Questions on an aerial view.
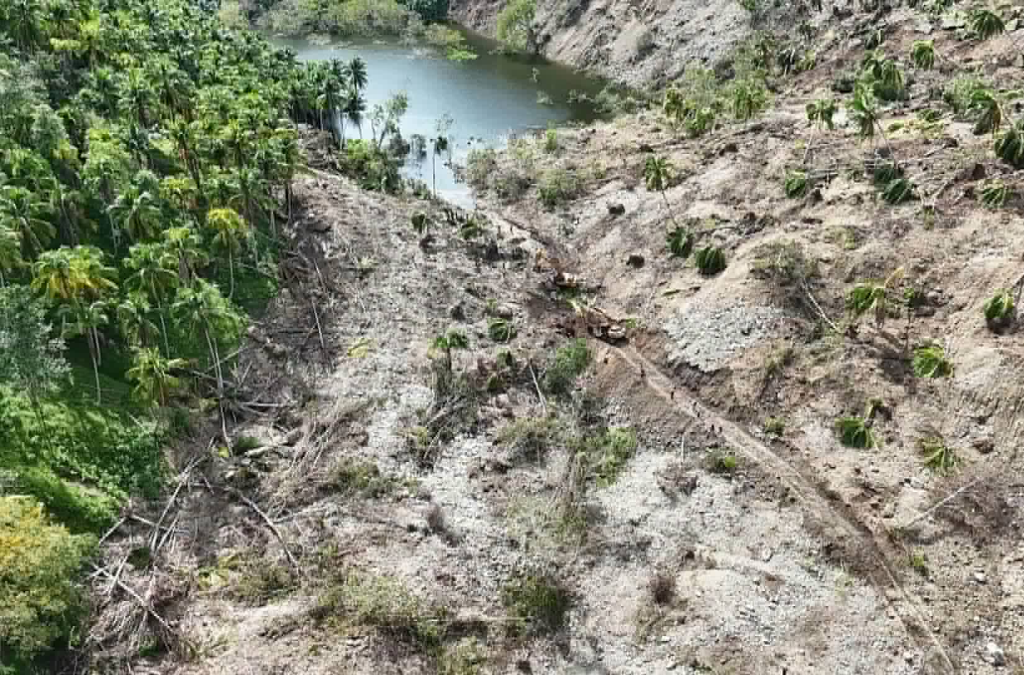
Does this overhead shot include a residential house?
No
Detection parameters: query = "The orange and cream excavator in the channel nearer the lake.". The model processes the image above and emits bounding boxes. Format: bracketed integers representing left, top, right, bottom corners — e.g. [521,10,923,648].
[546,254,583,289]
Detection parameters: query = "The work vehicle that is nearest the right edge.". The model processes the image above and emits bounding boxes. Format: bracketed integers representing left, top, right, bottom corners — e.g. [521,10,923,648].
[584,306,629,342]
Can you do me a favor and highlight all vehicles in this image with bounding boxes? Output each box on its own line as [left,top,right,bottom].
[546,254,583,289]
[584,306,629,342]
